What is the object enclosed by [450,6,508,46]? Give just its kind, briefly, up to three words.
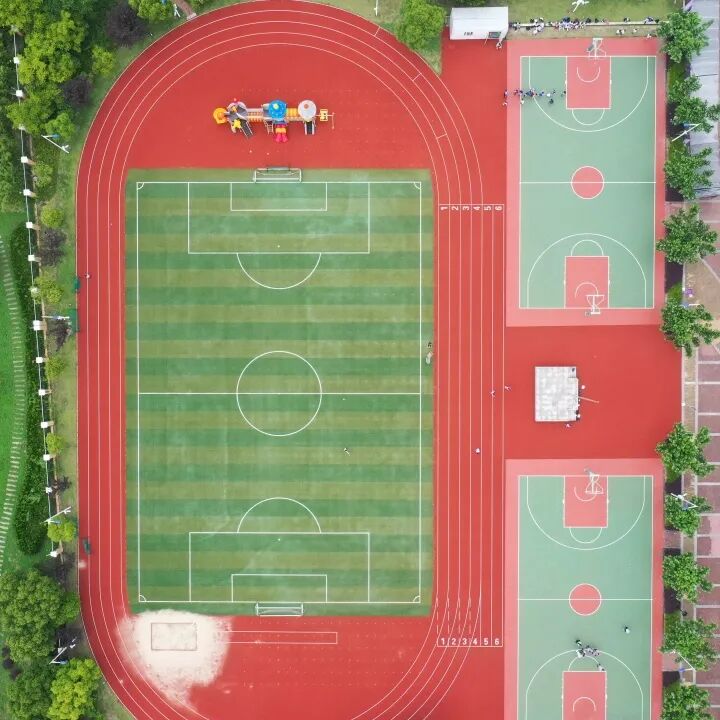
building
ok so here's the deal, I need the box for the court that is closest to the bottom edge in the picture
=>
[503,458,664,720]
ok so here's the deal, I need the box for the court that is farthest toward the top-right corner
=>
[506,37,667,326]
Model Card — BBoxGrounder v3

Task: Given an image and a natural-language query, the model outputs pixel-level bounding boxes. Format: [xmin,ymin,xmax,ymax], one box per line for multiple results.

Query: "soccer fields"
[124,168,435,617]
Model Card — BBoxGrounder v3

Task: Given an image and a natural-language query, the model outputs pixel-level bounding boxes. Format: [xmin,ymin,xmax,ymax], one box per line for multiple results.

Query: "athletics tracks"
[76,0,505,720]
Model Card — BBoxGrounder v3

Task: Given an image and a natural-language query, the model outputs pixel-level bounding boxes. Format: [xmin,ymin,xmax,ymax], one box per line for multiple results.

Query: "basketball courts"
[503,458,664,720]
[506,37,667,326]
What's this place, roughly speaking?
sports ground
